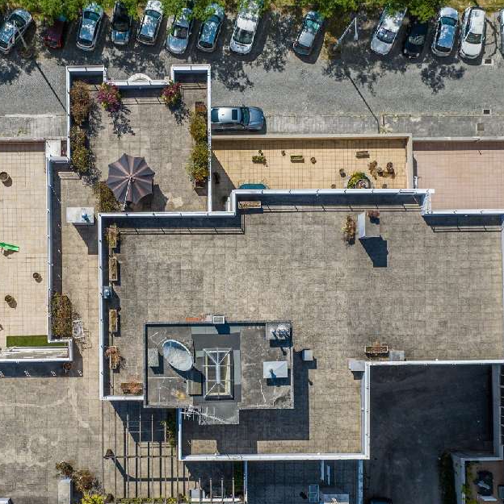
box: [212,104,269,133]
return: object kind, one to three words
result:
car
